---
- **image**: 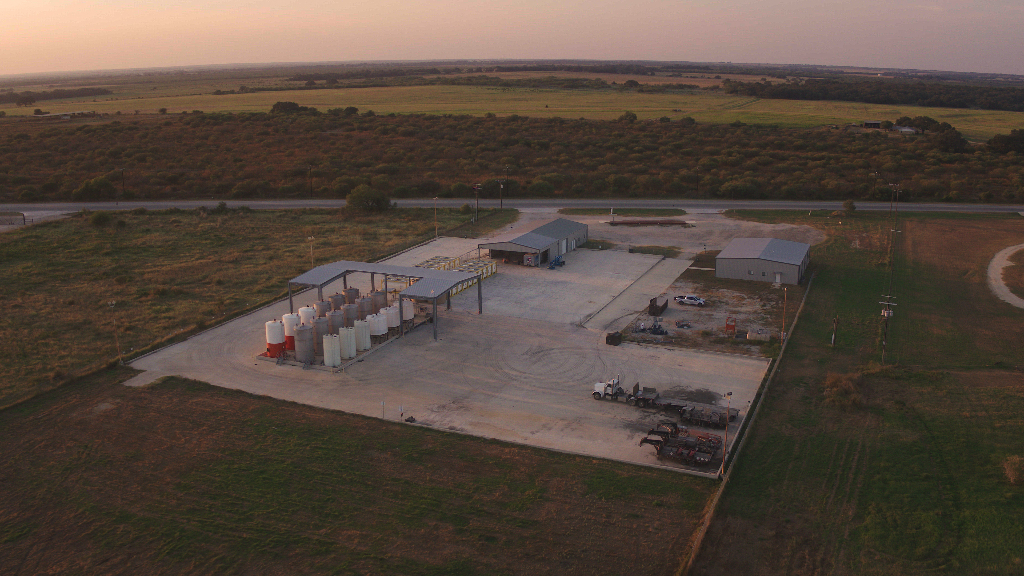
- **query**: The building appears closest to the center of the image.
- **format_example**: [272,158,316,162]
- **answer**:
[477,218,588,267]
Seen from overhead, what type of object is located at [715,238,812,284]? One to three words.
building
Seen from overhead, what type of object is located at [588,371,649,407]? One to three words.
truck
